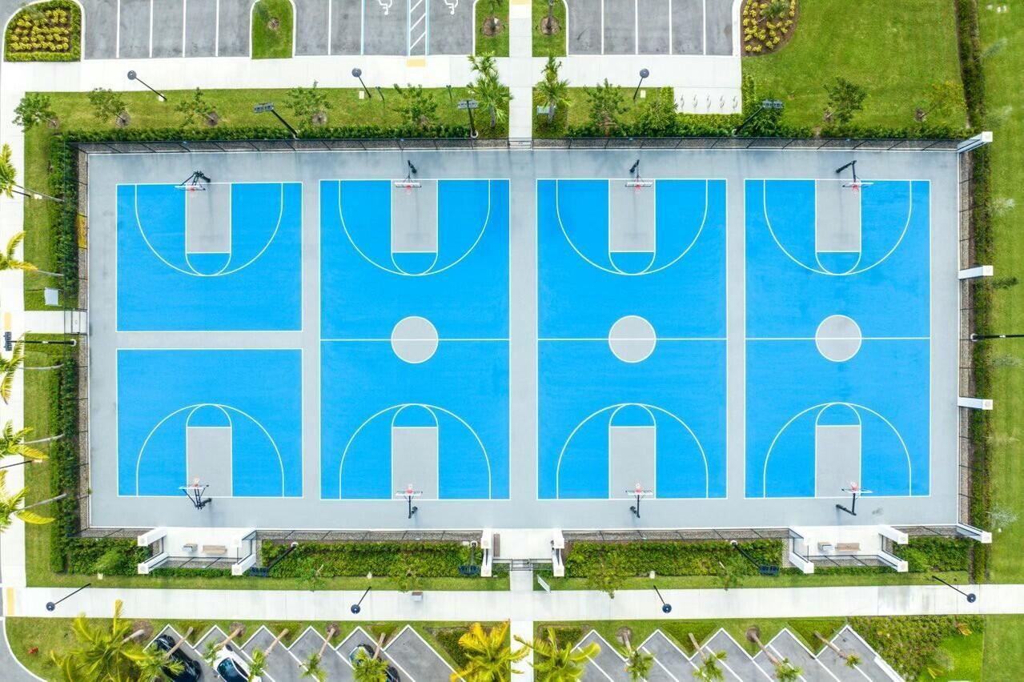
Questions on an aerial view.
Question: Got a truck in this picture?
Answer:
No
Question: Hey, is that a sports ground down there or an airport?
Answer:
sports ground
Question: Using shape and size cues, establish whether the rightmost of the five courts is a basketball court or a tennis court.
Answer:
basketball court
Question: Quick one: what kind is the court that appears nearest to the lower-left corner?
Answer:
basketball court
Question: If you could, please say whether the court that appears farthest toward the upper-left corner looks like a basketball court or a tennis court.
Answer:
basketball court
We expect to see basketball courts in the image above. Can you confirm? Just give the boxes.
[116,183,303,331]
[117,348,303,497]
[320,179,510,500]
[745,180,931,499]
[537,179,727,500]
